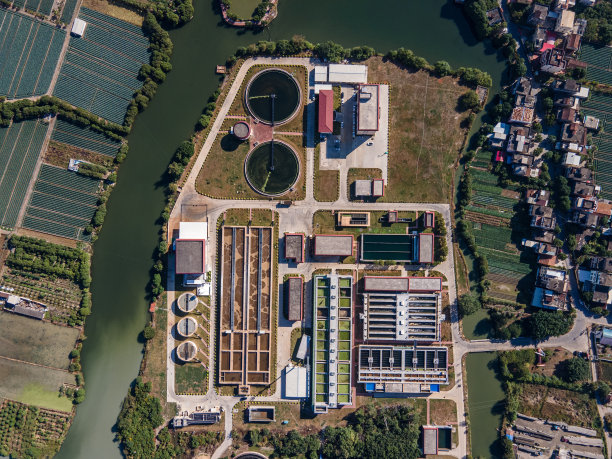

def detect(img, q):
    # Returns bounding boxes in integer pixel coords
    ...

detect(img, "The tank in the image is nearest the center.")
[244,139,301,197]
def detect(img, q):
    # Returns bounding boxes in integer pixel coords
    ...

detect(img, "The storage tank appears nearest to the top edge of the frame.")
[245,68,301,126]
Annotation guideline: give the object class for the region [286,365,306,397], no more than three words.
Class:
shed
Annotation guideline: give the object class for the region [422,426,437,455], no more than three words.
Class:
building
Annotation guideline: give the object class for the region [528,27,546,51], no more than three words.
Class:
house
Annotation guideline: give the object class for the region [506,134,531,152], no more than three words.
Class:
house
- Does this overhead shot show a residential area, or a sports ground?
residential area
